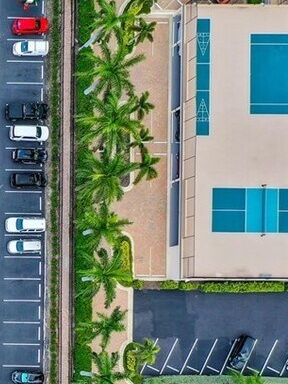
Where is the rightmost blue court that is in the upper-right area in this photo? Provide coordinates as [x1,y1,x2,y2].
[250,34,288,115]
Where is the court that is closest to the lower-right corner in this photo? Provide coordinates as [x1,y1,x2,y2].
[212,184,288,235]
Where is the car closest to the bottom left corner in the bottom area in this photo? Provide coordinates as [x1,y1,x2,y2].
[10,370,44,384]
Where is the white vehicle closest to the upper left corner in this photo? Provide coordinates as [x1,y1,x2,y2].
[12,39,49,58]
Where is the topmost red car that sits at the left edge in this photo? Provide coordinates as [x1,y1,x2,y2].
[11,17,49,36]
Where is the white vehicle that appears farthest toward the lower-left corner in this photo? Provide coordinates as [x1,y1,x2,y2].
[6,238,41,255]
